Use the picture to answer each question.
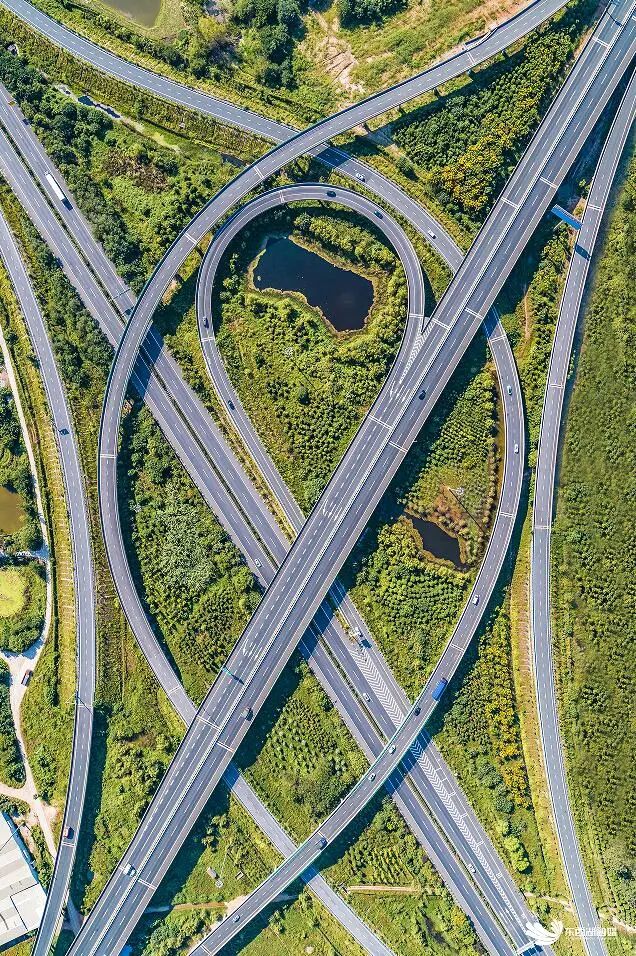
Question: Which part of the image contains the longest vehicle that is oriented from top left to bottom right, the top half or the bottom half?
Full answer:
It is in the top half that the longest vehicle that is oriented from top left to bottom right appears.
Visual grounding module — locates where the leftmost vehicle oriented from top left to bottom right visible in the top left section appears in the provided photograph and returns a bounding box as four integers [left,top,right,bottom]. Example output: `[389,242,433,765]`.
[43,170,64,200]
